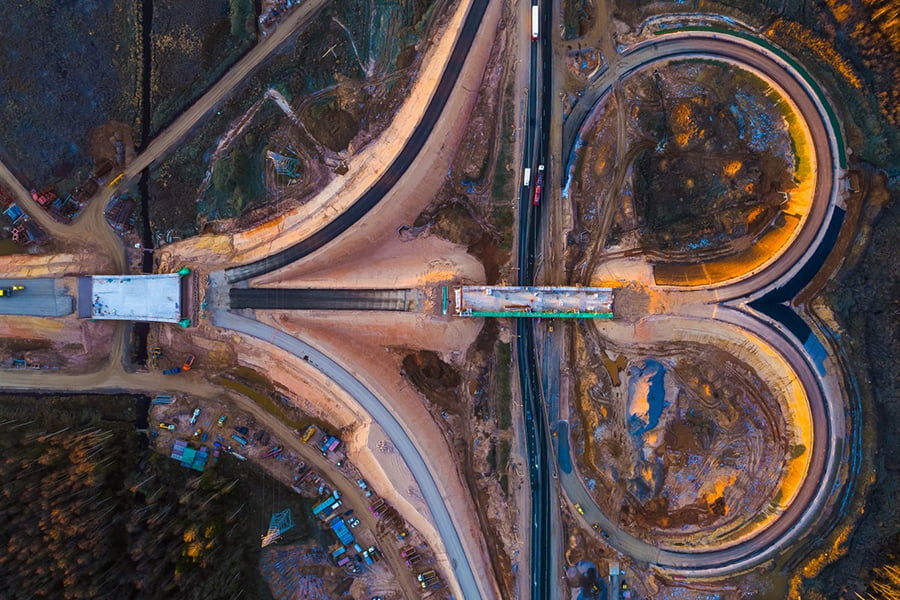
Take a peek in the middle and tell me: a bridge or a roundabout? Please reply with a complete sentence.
It is a bridge that can be seen in the middle.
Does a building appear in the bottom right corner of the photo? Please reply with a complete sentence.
No, in the bottom right corner of the photo there is no building.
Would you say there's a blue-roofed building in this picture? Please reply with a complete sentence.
Yes, the picture does show a blue-roofed building.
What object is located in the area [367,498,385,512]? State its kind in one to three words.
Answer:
vehicle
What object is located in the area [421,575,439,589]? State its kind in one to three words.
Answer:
vehicle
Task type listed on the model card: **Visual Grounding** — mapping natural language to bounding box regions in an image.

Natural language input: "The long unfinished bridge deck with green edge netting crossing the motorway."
[452,287,613,319]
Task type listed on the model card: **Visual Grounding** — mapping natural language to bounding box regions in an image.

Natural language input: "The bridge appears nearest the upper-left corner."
[78,273,186,325]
